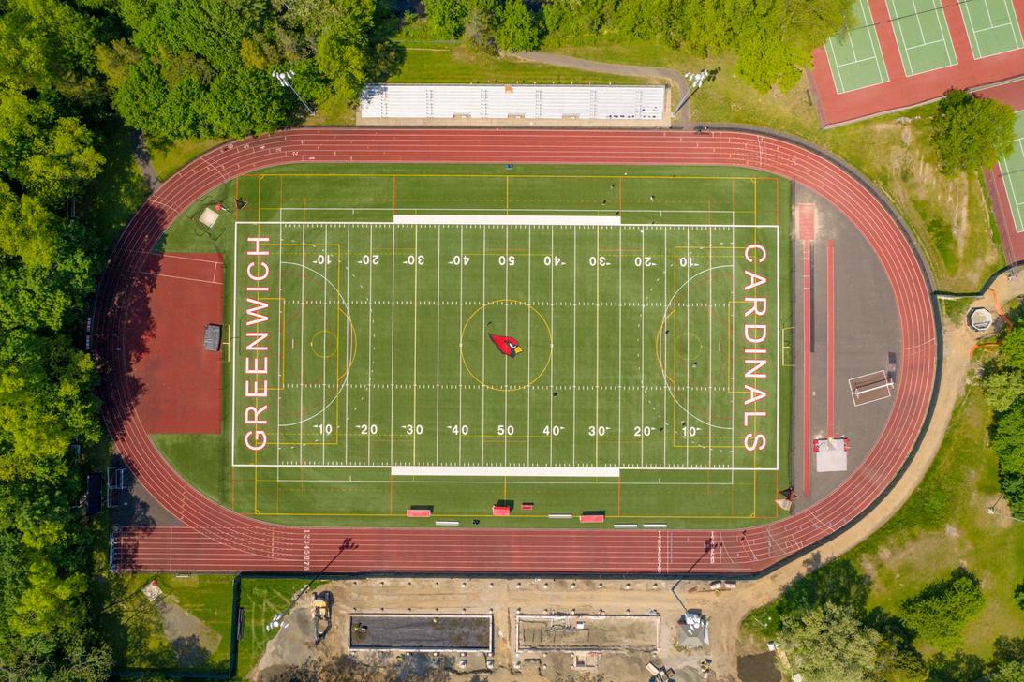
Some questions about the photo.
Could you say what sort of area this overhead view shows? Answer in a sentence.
The area seen from above is a sports ground.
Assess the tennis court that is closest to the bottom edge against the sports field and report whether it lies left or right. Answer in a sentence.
The sports field has the tennis court that is closest to the bottom edge on its right side.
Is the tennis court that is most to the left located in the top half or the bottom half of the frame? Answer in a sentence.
Seen from above, the tennis court that is most to the left lies in the top half of the view.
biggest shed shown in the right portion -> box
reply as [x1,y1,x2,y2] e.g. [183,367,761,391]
[677,621,706,650]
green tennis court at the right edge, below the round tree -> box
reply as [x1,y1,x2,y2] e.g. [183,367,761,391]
[996,109,1024,233]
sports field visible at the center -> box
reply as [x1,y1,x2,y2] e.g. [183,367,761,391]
[150,164,794,529]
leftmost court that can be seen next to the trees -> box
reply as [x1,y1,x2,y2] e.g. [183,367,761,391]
[816,0,890,95]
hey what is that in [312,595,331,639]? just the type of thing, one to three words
work vehicle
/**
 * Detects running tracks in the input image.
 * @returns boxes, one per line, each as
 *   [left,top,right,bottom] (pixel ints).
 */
[91,128,937,574]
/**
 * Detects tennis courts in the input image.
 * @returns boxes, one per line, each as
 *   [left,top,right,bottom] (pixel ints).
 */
[956,0,1024,60]
[816,0,890,95]
[996,109,1024,233]
[886,0,959,77]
